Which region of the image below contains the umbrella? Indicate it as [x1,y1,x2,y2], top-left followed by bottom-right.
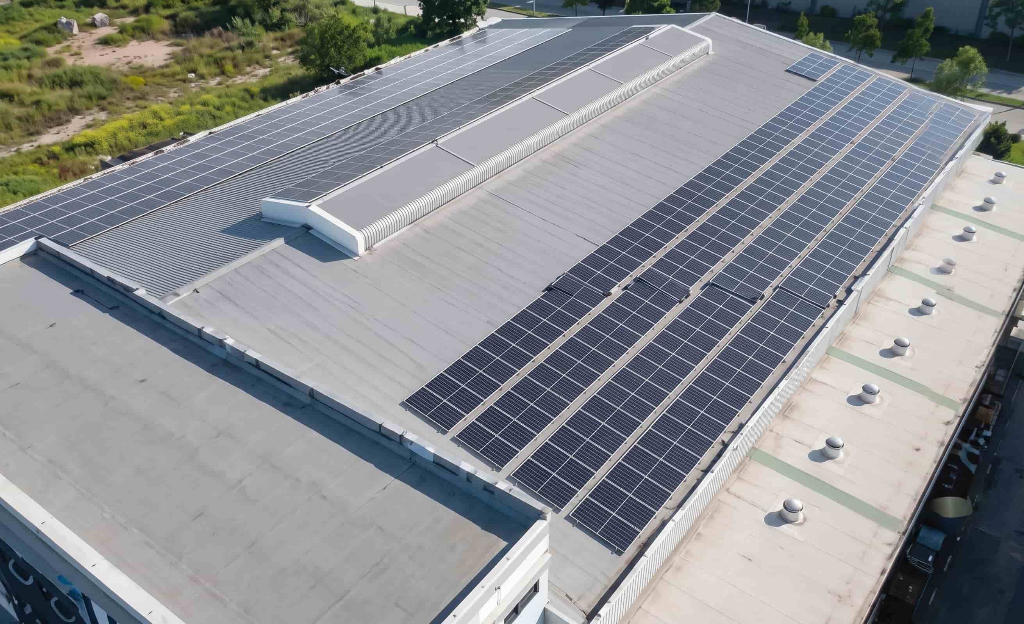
[930,495,970,527]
